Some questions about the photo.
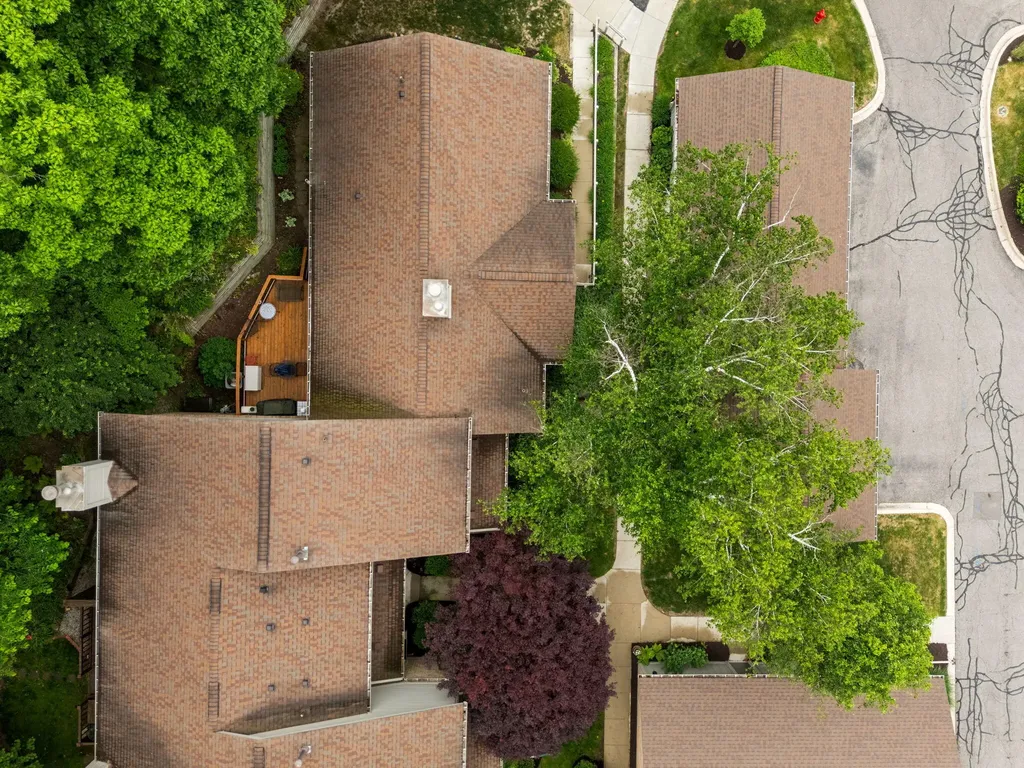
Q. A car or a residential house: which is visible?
residential house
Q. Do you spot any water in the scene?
No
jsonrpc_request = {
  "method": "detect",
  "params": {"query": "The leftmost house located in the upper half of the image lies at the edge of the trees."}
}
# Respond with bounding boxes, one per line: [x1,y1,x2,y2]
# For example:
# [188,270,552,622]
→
[306,33,574,437]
